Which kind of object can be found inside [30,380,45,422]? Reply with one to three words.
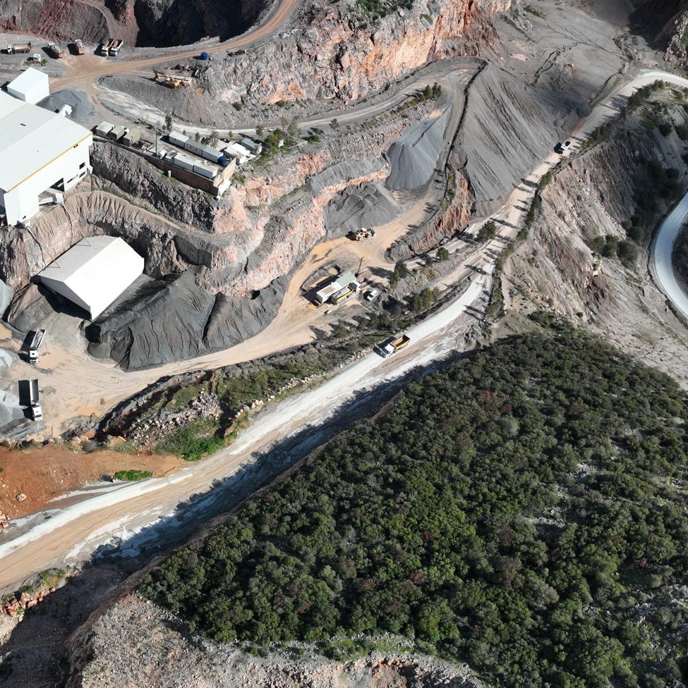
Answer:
vehicle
